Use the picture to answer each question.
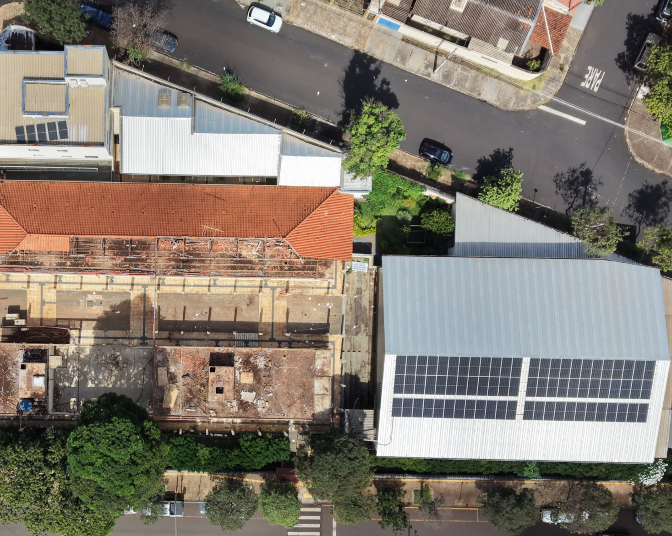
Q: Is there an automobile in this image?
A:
Yes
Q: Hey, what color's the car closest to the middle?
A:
black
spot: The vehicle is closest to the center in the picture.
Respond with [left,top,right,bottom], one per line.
[418,140,452,167]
